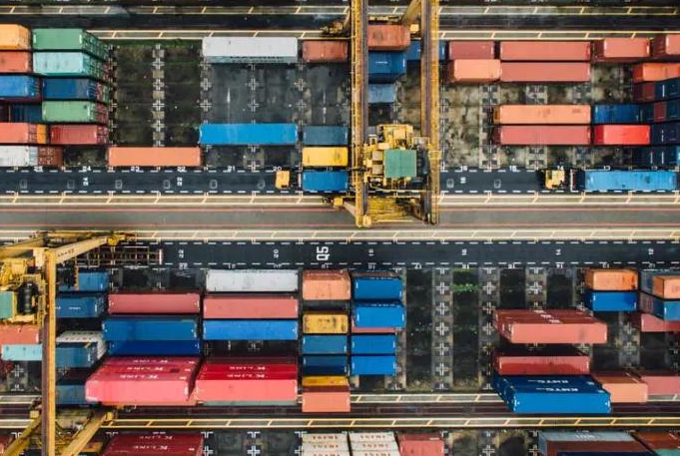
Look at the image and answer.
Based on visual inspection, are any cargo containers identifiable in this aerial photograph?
Yes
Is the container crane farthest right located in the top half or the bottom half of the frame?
top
